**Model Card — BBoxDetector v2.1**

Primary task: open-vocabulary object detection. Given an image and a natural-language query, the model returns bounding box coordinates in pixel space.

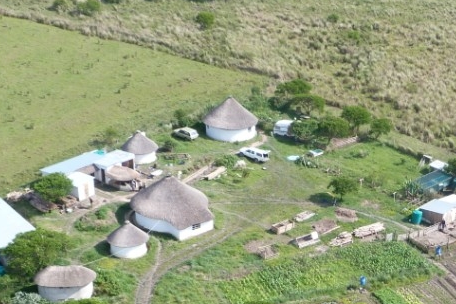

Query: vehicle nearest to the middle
[238,144,271,163]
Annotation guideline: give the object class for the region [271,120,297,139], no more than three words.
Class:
camper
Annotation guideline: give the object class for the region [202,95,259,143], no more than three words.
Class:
shed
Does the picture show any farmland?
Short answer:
Yes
